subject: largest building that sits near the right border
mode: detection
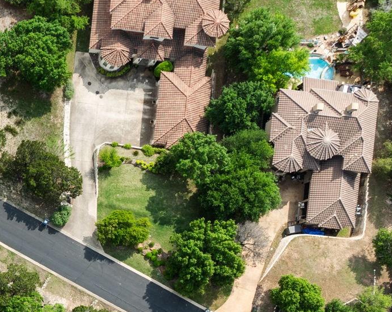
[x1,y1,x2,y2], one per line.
[260,75,379,230]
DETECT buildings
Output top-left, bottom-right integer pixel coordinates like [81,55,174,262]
[85,0,231,150]
[260,75,379,230]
